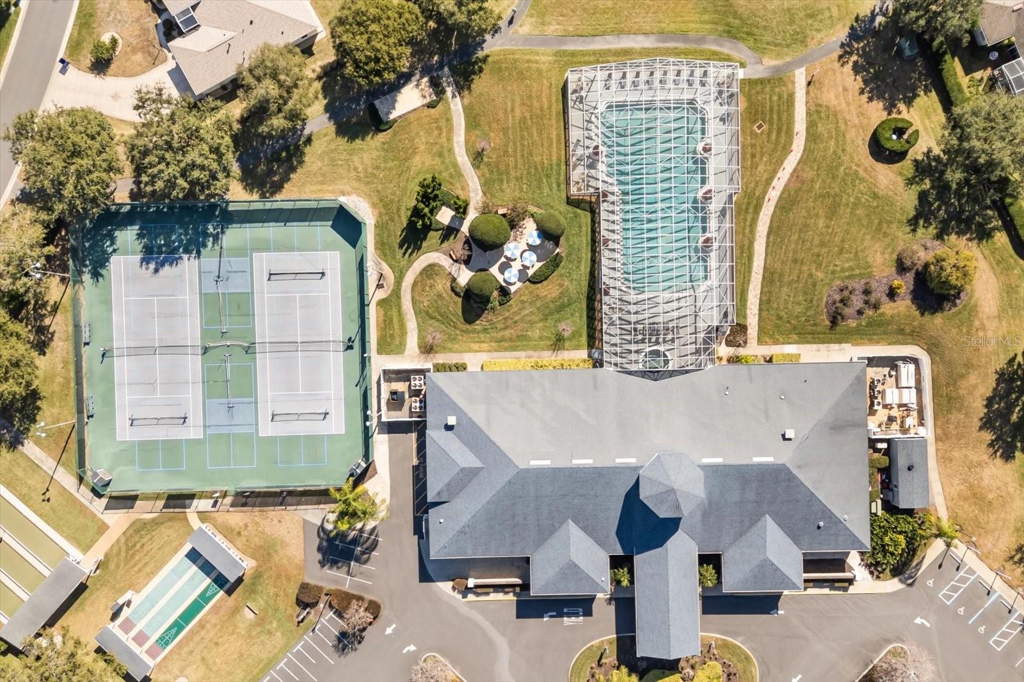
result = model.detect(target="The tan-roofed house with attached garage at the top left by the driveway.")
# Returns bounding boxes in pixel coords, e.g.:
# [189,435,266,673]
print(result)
[164,0,318,98]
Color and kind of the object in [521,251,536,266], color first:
white umbrella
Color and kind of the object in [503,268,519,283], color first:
white umbrella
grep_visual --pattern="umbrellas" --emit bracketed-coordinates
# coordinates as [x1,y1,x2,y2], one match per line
[521,251,536,266]
[527,231,542,245]
[503,268,519,283]
[504,243,519,258]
